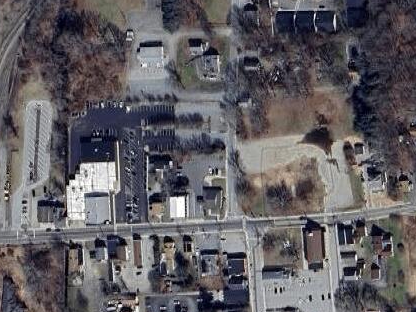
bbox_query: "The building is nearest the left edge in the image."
[38,201,64,223]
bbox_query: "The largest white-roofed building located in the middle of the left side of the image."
[66,137,117,220]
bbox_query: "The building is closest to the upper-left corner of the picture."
[138,45,164,67]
